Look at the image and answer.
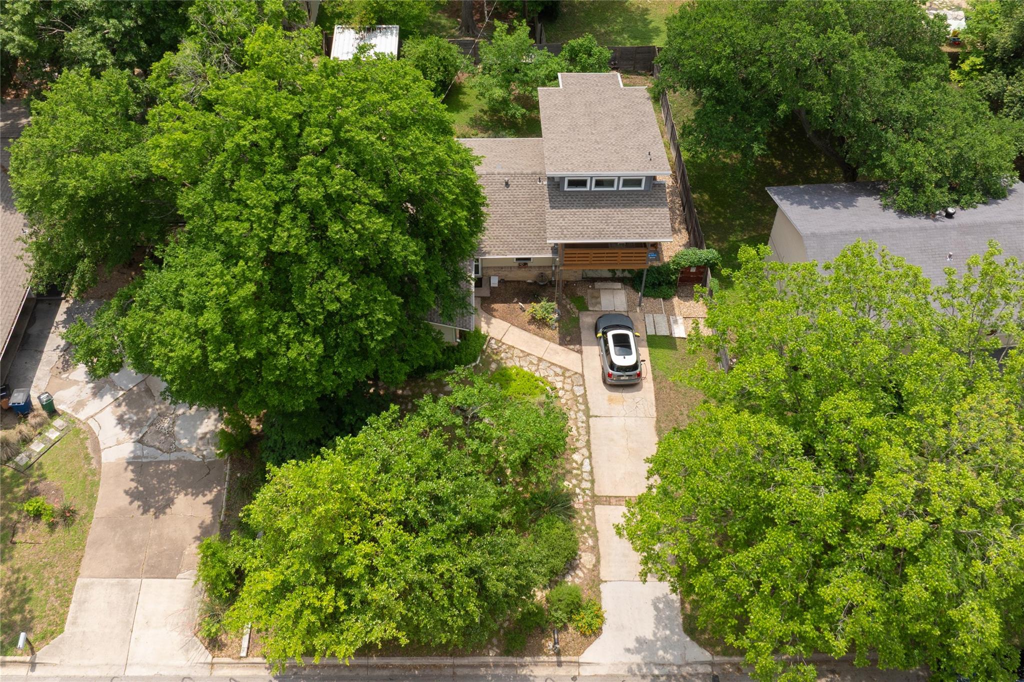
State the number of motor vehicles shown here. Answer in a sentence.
Altogether the scene contains 1 motor vehicle.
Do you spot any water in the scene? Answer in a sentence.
No, no water is visible.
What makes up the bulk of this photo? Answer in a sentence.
For the most part, this view shows trees.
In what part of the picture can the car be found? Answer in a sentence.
The car is in the center part of the image.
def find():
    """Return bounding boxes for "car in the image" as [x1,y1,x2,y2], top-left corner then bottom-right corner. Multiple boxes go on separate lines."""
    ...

[593,313,646,389]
